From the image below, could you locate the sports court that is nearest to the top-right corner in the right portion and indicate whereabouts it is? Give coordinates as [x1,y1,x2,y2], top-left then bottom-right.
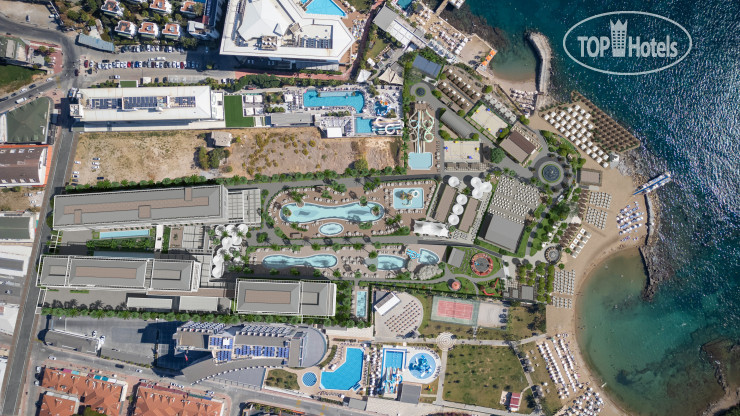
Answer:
[470,103,509,141]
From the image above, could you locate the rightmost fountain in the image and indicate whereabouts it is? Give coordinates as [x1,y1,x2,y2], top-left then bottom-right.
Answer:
[541,162,562,183]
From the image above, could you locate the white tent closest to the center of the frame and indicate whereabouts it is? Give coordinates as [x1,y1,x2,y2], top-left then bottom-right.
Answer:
[414,220,449,235]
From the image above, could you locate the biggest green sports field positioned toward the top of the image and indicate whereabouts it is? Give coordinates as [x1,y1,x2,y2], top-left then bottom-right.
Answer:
[224,95,254,128]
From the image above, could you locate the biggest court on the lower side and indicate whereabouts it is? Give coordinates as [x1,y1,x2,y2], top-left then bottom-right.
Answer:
[431,294,481,328]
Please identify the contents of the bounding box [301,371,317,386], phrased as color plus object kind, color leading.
blue swimming pool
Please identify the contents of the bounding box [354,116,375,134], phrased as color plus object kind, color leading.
blue swimming pool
